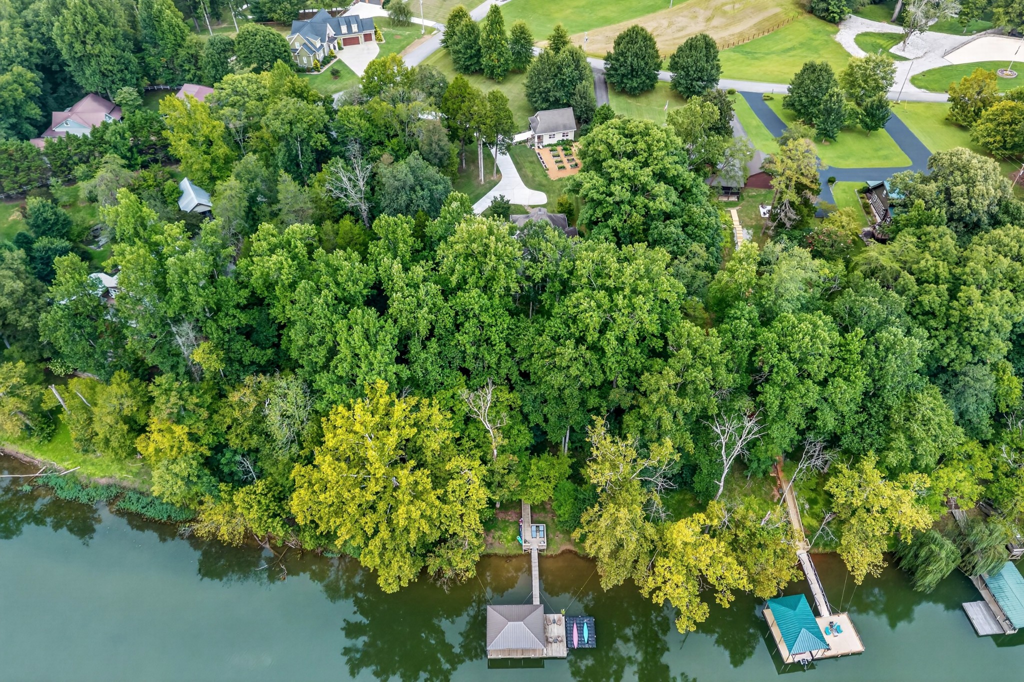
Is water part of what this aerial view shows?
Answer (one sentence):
Yes, water can be seen from above here.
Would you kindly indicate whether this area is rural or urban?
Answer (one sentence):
This place is rural.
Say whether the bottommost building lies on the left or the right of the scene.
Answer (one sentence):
It is on the right.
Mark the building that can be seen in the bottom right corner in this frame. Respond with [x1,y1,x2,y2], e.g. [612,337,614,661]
[971,554,1024,638]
